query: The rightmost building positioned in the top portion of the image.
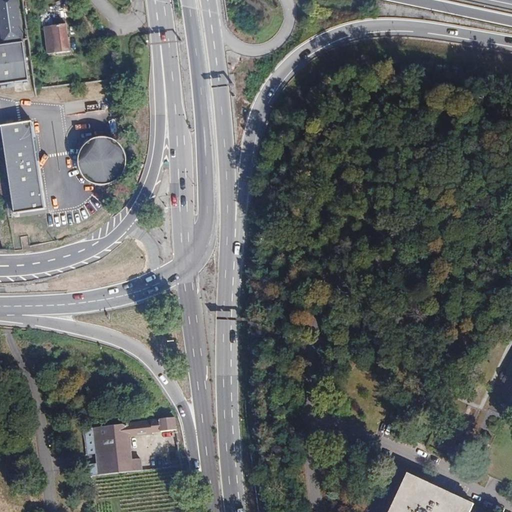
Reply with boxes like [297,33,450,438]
[76,136,126,187]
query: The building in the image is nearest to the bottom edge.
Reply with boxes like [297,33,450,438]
[385,470,474,512]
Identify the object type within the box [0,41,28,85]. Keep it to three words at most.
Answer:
building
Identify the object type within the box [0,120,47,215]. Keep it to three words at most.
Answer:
building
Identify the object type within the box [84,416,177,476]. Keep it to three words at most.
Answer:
house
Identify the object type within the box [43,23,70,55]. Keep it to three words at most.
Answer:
house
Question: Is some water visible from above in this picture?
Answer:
No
